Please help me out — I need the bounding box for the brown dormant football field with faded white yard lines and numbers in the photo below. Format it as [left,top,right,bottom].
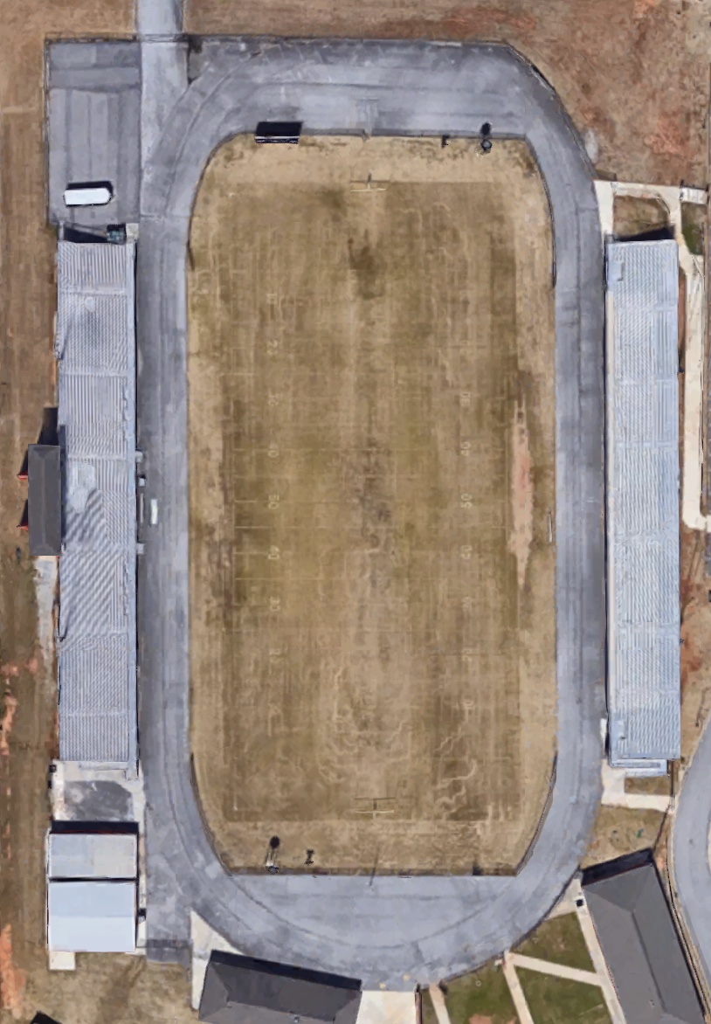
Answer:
[188,134,556,875]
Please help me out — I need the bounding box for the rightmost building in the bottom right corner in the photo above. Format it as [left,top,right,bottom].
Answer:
[581,862,705,1024]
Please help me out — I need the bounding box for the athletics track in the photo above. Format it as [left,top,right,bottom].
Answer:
[138,41,605,991]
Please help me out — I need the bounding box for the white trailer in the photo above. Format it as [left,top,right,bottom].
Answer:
[64,188,120,209]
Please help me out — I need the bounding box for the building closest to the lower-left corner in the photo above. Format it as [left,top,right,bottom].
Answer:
[47,879,137,951]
